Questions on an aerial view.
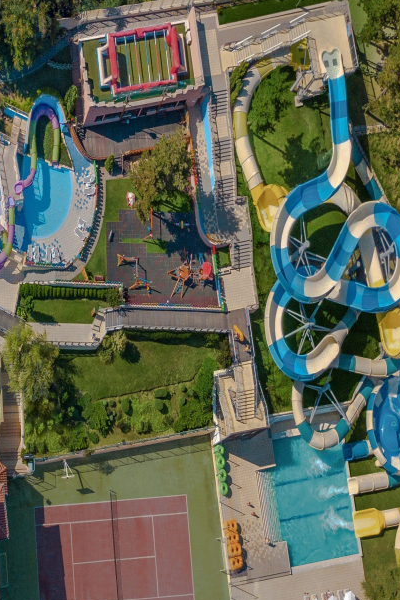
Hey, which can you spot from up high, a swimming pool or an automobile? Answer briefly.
swimming pool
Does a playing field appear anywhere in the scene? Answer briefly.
Yes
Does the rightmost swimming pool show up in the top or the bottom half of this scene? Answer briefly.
bottom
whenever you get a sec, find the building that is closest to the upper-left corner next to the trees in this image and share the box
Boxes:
[70,6,206,122]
